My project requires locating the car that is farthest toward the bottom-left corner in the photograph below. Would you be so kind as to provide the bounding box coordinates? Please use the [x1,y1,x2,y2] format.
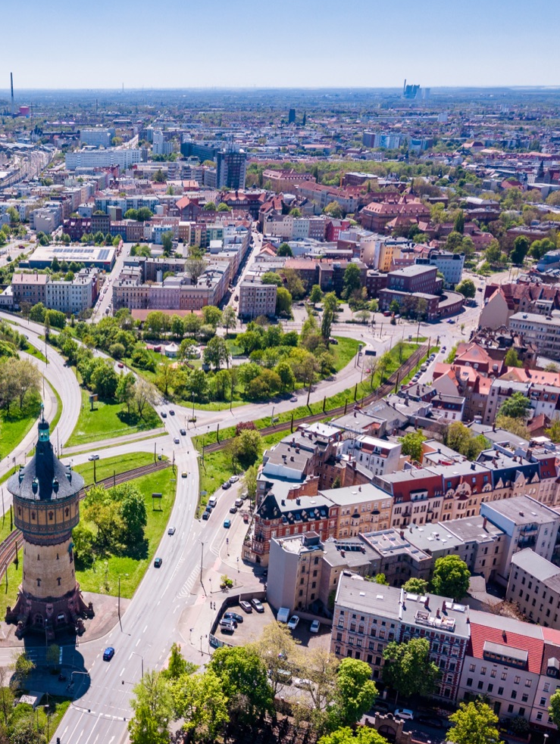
[102,646,115,661]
